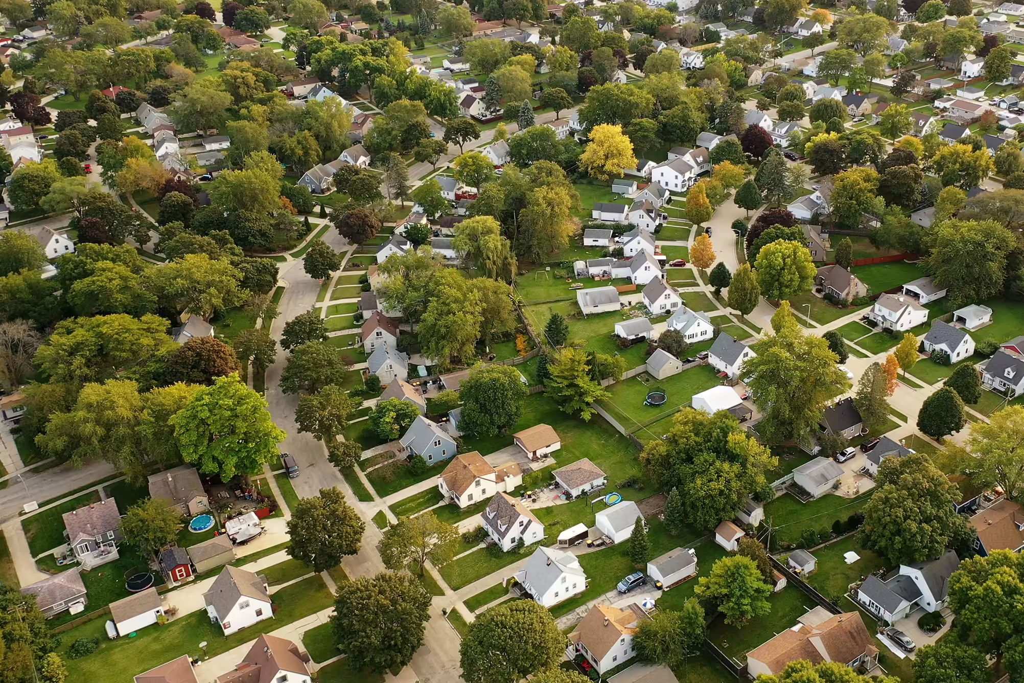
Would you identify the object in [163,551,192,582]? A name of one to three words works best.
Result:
shed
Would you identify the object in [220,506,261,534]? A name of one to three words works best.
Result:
camper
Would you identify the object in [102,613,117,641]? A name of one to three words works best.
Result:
boat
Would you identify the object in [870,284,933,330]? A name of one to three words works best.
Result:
house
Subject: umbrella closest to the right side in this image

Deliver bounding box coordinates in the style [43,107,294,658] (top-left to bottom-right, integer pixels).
[640,594,658,609]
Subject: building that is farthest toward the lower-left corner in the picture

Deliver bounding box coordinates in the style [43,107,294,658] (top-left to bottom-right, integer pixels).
[33,557,88,614]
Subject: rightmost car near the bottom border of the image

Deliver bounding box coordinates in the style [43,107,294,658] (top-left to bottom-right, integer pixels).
[884,628,918,653]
